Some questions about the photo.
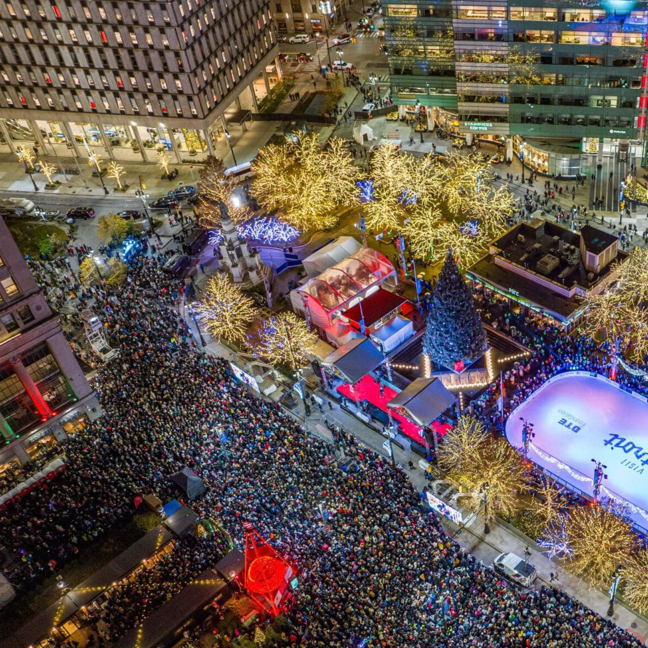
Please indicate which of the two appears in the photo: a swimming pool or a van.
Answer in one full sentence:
Of the two, only a van appears.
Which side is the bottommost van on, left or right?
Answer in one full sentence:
The bottommost van appears in the right half of the scene.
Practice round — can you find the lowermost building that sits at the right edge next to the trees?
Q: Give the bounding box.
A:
[467,214,630,328]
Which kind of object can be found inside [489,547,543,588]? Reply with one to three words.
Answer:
van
